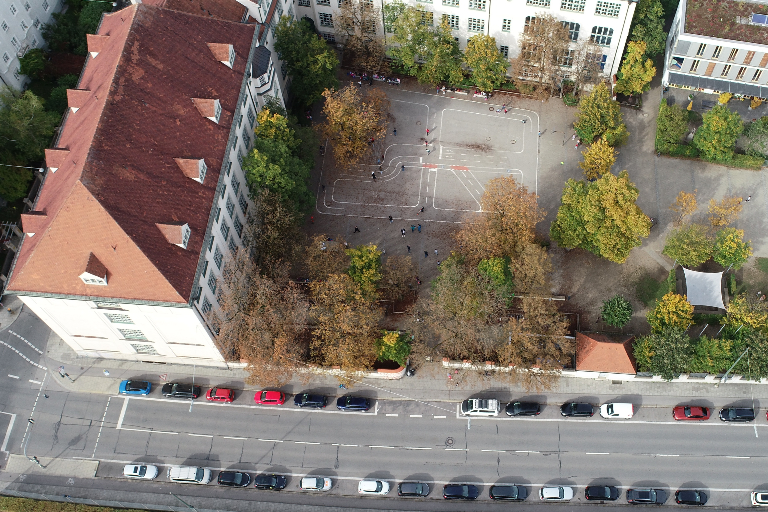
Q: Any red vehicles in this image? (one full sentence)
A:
Yes, a red vehicle is visible in the scene.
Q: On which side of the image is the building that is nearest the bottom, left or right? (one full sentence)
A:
The building that is nearest the bottom appears in the right half of the scene.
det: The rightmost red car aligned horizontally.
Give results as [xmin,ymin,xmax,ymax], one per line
[672,405,710,423]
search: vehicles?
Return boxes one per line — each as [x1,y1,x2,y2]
[490,484,528,503]
[397,481,430,499]
[253,473,288,492]
[162,382,202,402]
[206,387,236,405]
[337,395,372,413]
[585,485,618,503]
[253,391,286,407]
[672,405,710,423]
[357,479,391,496]
[460,398,499,418]
[293,391,330,409]
[216,471,252,489]
[506,401,541,419]
[674,489,707,507]
[599,402,635,420]
[121,464,160,483]
[627,488,668,506]
[719,406,755,424]
[561,402,594,419]
[539,486,573,504]
[443,483,479,502]
[166,466,212,487]
[749,493,768,508]
[119,379,152,397]
[299,475,333,493]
